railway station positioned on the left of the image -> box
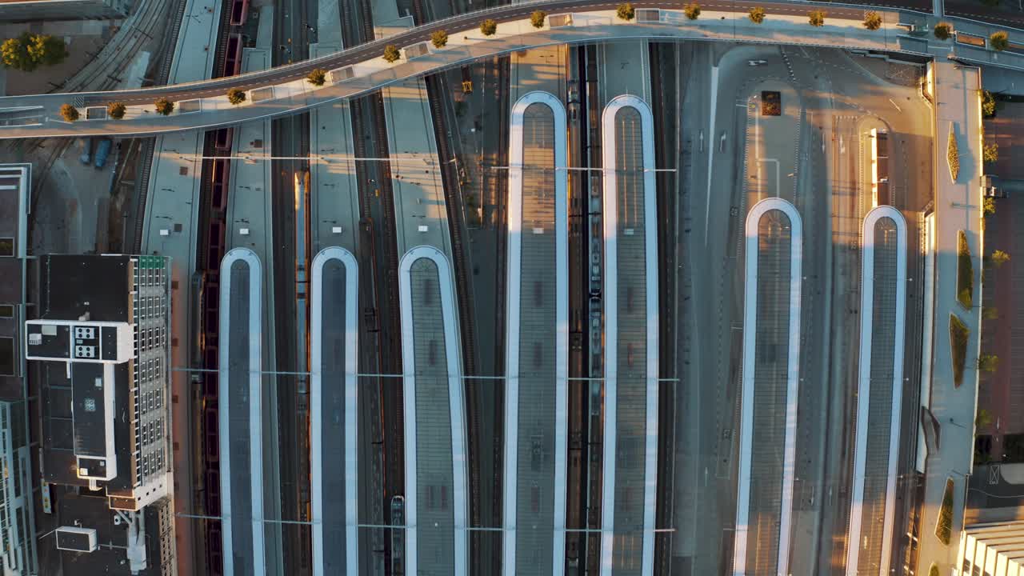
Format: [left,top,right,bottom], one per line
[5,0,673,576]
